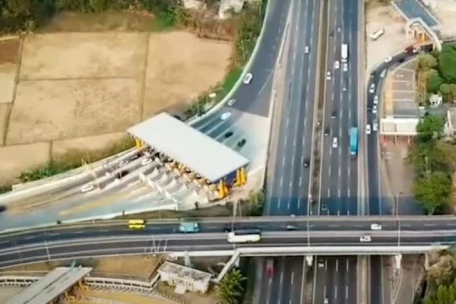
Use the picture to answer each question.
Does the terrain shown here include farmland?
Yes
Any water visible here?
No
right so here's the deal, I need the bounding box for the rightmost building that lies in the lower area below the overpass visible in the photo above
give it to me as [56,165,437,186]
[159,263,211,294]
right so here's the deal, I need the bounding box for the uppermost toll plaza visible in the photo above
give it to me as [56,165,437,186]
[392,0,439,39]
